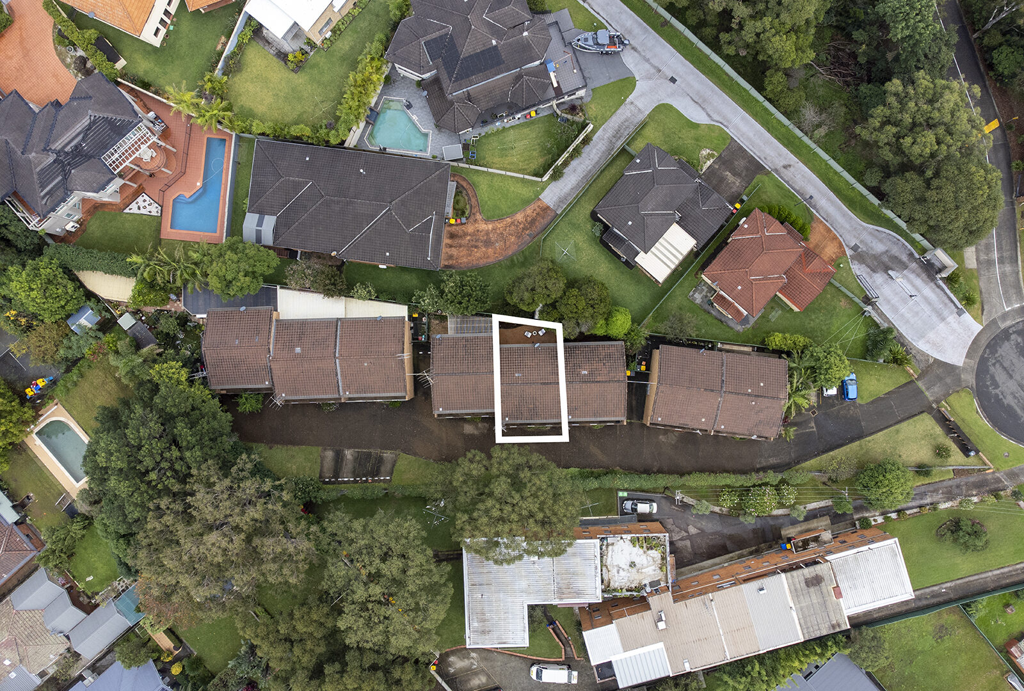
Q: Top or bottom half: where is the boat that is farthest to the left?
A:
top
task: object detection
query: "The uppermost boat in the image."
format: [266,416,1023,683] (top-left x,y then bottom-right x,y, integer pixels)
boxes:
[573,32,629,53]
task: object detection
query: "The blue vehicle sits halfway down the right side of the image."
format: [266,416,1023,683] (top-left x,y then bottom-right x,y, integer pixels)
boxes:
[839,372,858,402]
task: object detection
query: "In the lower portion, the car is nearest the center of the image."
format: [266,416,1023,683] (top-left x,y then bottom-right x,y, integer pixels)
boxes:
[621,499,657,514]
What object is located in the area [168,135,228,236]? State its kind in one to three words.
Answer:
swimming pool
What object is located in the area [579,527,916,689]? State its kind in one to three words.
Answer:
building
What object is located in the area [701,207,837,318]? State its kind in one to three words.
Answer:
house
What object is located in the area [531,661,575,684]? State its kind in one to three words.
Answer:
vehicle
